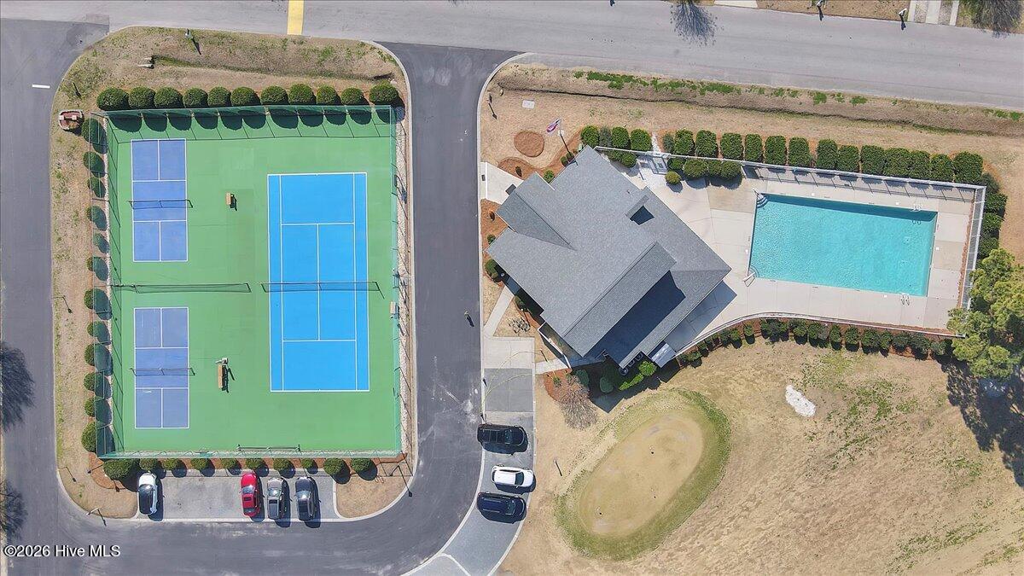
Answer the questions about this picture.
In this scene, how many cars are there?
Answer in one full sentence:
Looking from above, you can make out 7 cars.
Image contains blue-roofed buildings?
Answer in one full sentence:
No, the frame has no blue-roofed building in it.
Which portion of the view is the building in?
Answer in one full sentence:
You can find the building in the center area of the picture.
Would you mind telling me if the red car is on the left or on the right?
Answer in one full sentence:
The red car sits on the left side.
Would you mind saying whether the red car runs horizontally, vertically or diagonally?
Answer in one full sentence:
The red car is oriented vertically.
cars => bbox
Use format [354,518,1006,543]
[477,425,528,448]
[137,471,160,514]
[239,472,261,517]
[477,493,525,517]
[266,476,287,520]
[293,475,316,521]
[491,466,534,488]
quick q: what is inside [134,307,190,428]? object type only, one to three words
sports court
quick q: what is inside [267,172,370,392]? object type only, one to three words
tennis court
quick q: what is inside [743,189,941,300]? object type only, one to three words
swimming pool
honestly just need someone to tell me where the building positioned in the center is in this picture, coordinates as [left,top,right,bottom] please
[486,148,731,369]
